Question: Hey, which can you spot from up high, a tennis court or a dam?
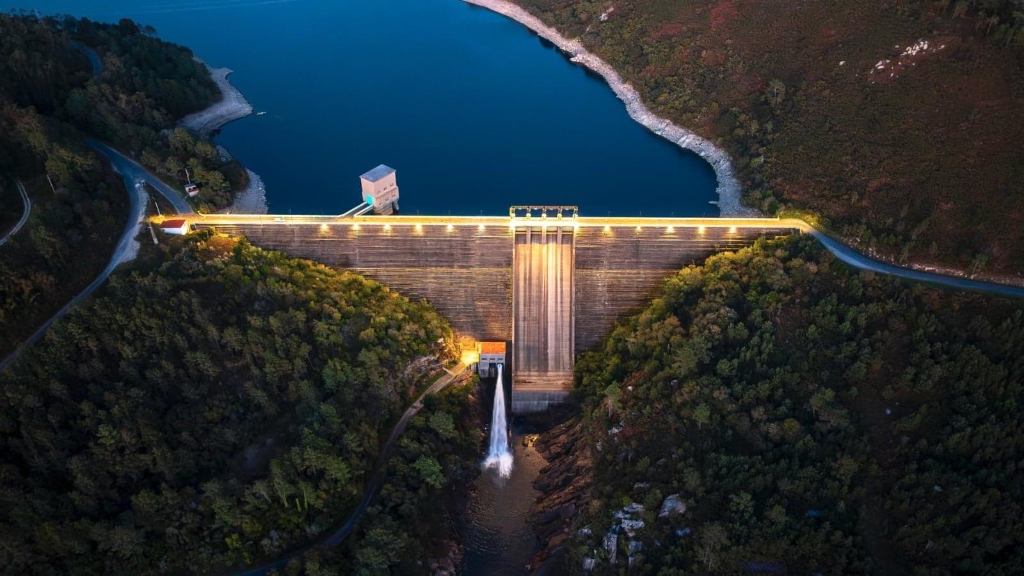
dam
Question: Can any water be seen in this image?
Yes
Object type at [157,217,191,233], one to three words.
house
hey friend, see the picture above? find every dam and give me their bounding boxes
[188,210,796,429]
